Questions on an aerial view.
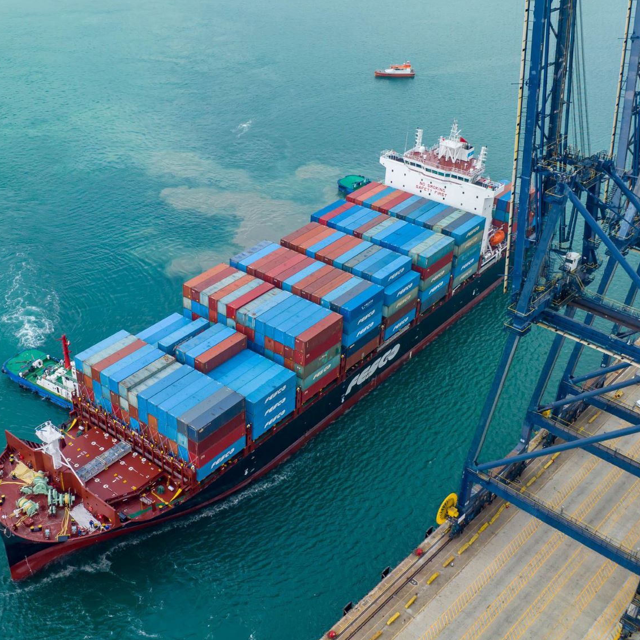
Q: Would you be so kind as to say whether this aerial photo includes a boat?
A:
Yes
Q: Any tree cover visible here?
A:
No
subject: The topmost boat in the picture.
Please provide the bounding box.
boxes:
[375,61,413,79]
